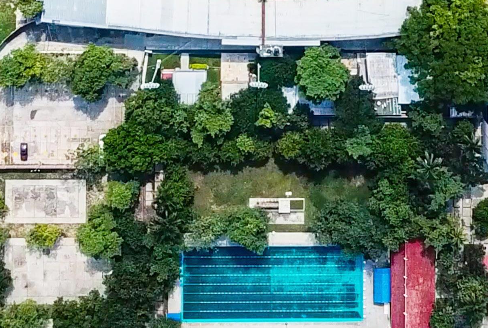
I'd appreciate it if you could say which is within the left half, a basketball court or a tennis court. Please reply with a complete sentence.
The feature located within the left half is a basketball court.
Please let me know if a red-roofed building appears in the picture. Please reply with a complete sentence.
Yes, there is a red-roofed building in the image.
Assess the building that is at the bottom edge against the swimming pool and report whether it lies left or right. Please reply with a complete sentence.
In the image, the building that is at the bottom edge sits on the right side of the swimming pool.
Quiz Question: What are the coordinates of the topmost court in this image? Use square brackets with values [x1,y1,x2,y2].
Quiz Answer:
[5,179,86,223]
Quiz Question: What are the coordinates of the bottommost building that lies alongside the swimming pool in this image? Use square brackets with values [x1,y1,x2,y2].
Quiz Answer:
[391,240,434,328]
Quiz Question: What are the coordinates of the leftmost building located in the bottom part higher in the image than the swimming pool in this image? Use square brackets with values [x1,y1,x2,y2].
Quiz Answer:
[250,197,305,224]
